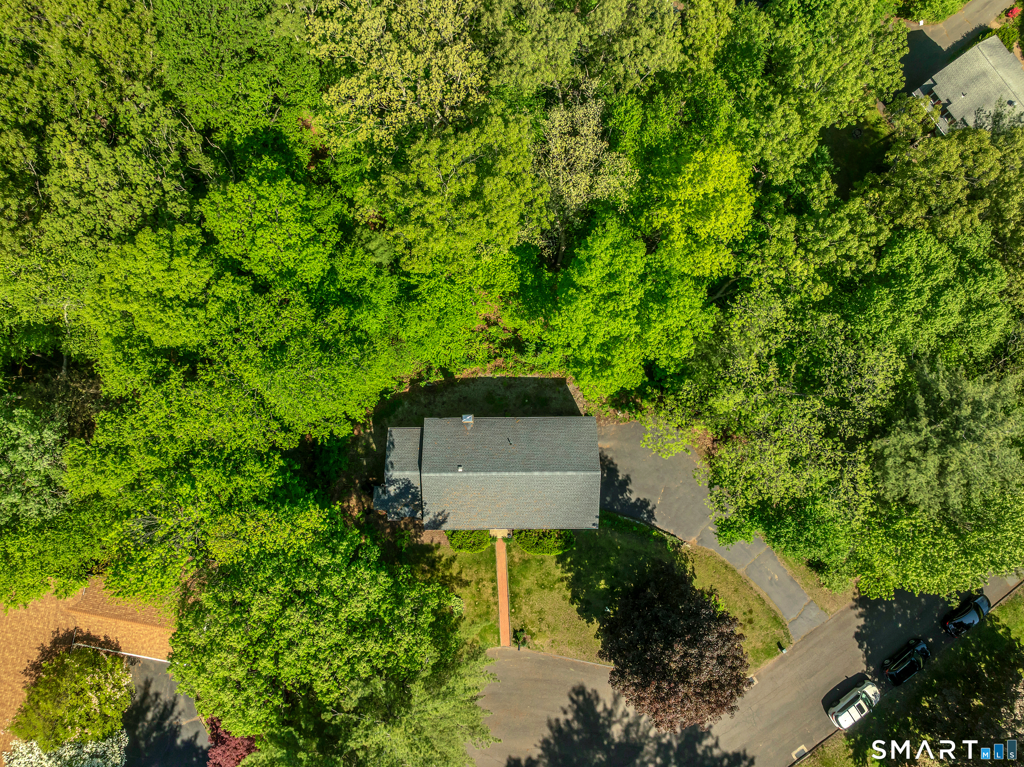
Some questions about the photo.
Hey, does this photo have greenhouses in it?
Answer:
No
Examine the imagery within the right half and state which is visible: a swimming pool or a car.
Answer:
car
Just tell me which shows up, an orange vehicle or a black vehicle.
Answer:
black vehicle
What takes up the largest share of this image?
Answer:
trees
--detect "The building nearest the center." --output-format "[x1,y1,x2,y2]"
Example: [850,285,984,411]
[372,414,602,530]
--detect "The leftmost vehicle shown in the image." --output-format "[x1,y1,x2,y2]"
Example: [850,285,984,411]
[829,680,880,731]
